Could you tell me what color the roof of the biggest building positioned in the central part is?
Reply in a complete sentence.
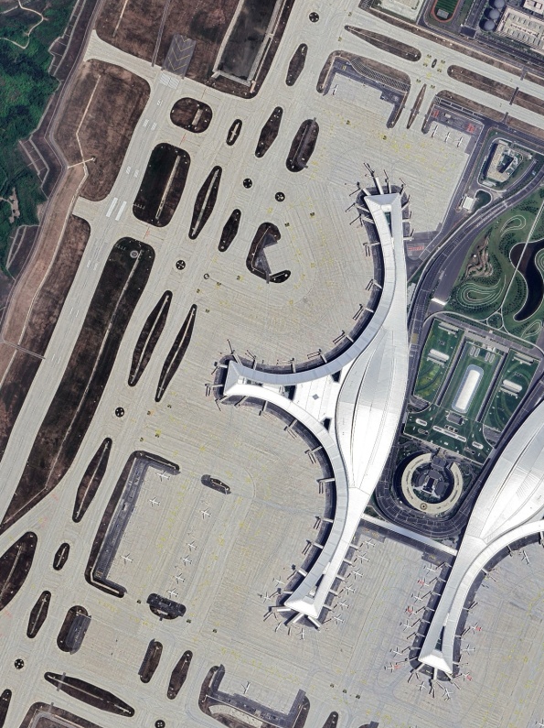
The color of the roof on the biggest building positioned in the central part is white.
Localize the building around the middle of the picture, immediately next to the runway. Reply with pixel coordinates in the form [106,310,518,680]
[208,162,414,635]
